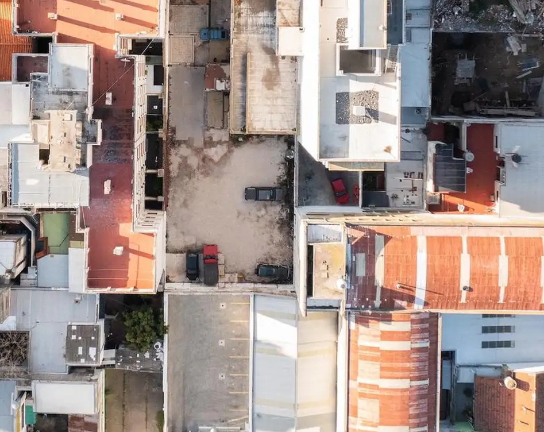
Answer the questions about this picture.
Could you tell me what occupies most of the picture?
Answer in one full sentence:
What you mostly see from above here is buildings.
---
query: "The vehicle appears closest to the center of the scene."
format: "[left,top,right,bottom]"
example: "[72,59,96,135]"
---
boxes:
[243,185,282,203]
